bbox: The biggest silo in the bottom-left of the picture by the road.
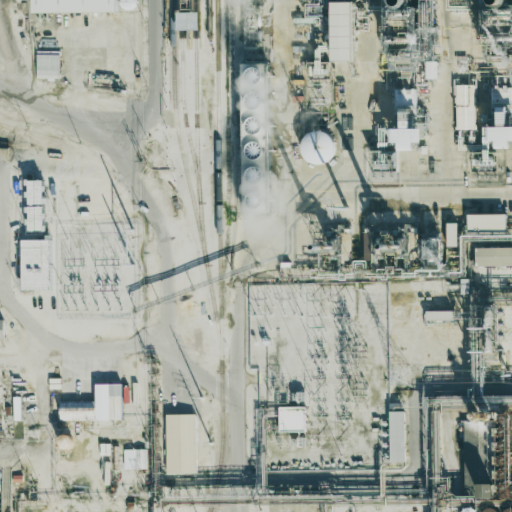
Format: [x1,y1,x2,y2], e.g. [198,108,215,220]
[56,430,78,450]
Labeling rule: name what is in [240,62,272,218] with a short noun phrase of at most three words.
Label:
cooling tower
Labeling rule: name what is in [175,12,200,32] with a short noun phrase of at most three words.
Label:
shed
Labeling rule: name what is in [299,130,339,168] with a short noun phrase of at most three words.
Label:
storage tank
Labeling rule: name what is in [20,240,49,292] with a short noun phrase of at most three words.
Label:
building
